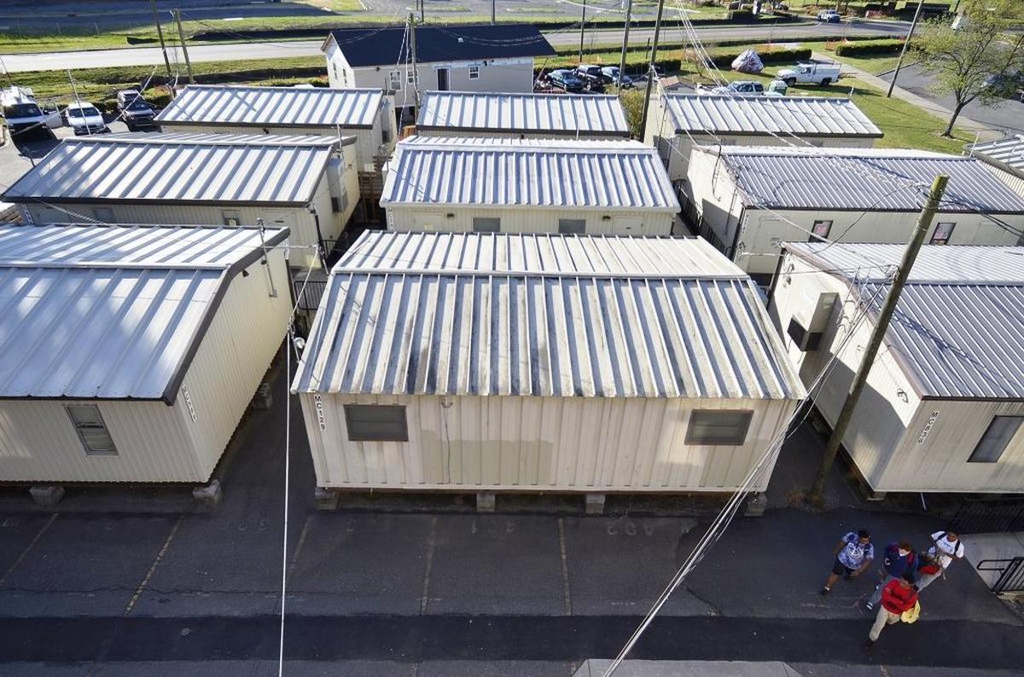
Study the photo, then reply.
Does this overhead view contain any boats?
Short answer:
No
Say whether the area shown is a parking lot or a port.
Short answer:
parking lot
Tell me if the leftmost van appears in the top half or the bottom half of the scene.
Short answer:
top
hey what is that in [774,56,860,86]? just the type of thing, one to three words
truck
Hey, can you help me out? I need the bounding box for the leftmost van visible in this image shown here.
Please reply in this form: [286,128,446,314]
[0,78,73,136]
